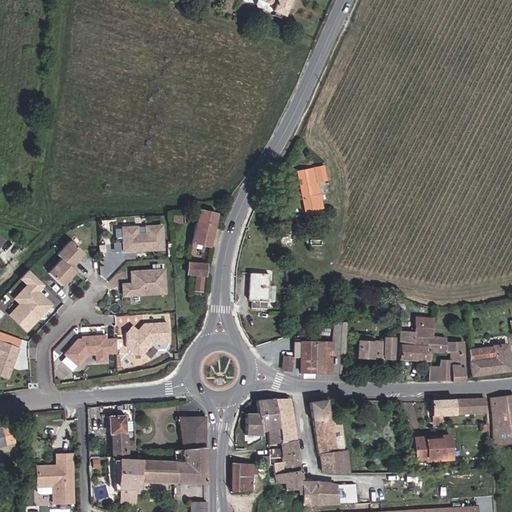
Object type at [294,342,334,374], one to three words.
barn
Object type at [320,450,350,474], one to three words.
barn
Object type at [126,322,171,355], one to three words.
house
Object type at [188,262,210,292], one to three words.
house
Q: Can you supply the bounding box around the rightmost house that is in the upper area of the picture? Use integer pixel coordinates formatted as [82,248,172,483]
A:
[298,166,328,212]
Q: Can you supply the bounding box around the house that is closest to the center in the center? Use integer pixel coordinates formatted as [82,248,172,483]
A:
[250,270,276,302]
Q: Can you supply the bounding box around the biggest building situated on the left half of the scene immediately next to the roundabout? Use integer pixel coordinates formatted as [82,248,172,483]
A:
[120,448,209,504]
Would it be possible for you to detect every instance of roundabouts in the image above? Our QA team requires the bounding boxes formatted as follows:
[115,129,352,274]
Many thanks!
[168,307,280,426]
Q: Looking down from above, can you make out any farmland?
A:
Yes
